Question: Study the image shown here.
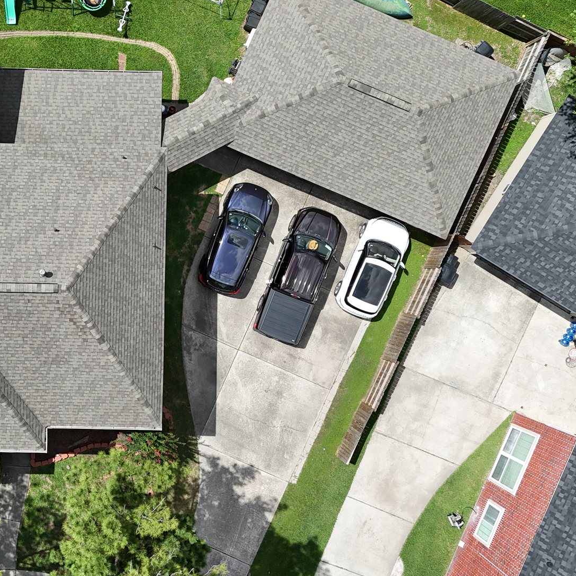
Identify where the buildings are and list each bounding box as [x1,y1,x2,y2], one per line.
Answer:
[463,93,576,314]
[225,0,520,241]
[0,65,170,455]
[454,417,576,576]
